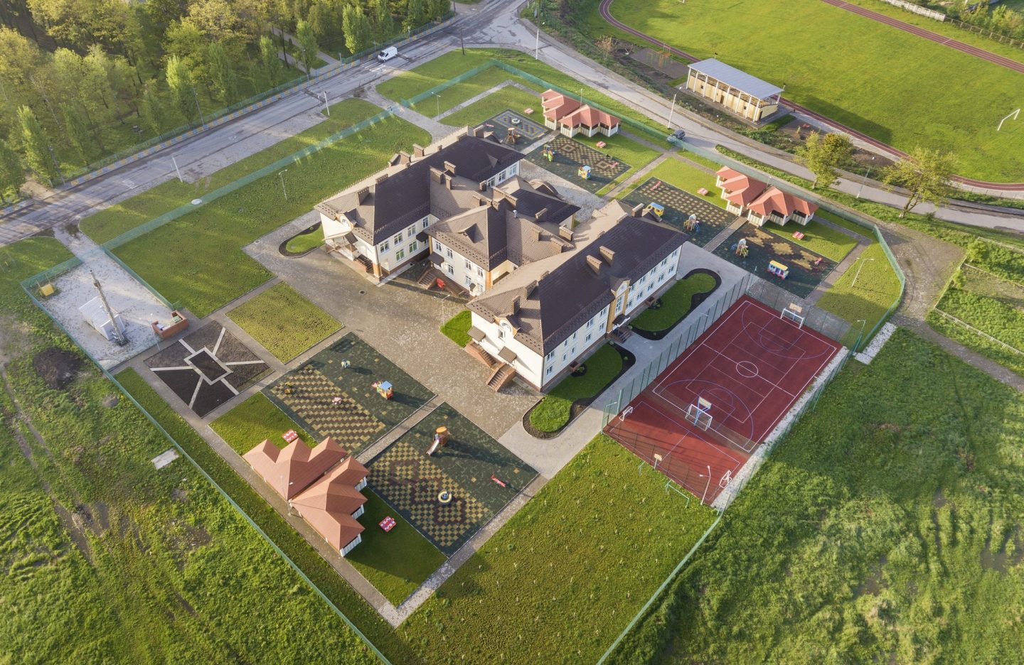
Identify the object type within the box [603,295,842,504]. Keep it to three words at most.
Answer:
sports court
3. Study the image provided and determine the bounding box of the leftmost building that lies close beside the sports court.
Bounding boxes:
[313,125,690,391]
